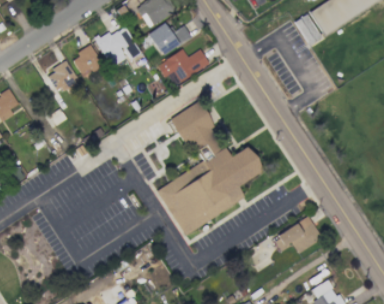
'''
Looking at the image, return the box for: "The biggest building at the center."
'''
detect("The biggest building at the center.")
[160,101,262,236]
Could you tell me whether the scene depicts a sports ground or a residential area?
residential area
